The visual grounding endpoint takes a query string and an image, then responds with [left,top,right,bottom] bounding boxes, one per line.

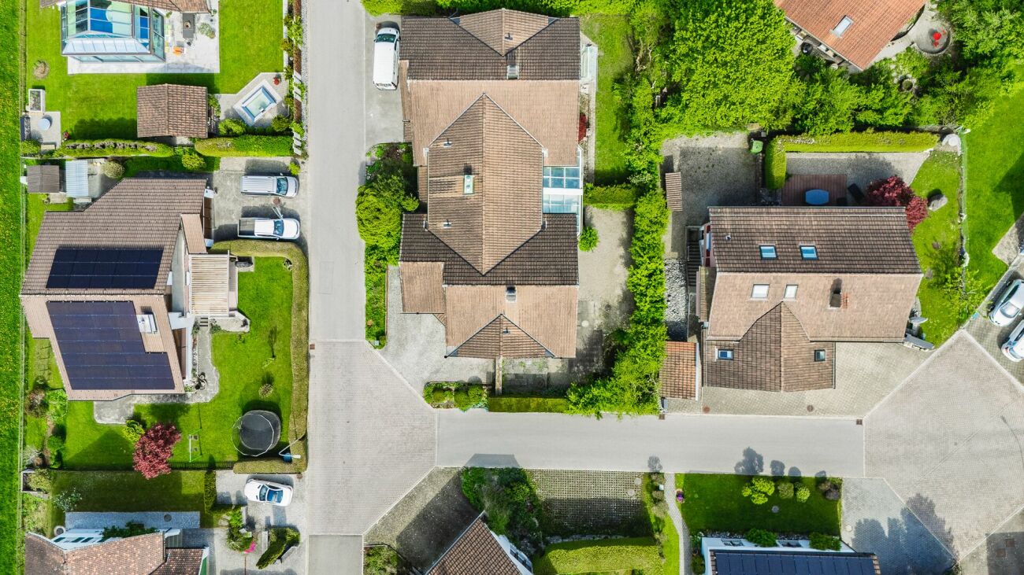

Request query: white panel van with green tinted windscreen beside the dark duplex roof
[370,27,401,91]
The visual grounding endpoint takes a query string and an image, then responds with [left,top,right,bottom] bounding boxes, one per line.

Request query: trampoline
[230,409,282,457]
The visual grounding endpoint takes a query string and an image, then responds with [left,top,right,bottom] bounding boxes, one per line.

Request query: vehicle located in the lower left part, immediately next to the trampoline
[243,476,297,506]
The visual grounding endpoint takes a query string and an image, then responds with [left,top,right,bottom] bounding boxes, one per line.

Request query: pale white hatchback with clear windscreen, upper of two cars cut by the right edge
[990,269,1024,325]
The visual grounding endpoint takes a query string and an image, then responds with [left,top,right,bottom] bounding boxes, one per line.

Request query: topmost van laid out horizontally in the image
[234,171,299,201]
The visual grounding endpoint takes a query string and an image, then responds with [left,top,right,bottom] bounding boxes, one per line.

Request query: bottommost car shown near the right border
[1001,310,1024,364]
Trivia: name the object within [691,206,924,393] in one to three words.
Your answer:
house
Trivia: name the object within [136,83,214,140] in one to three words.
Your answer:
building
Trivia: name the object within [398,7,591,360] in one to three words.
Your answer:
house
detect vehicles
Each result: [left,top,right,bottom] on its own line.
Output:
[370,27,401,91]
[990,269,1024,325]
[1001,310,1024,364]
[233,203,303,242]
[243,476,297,506]
[234,171,299,201]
